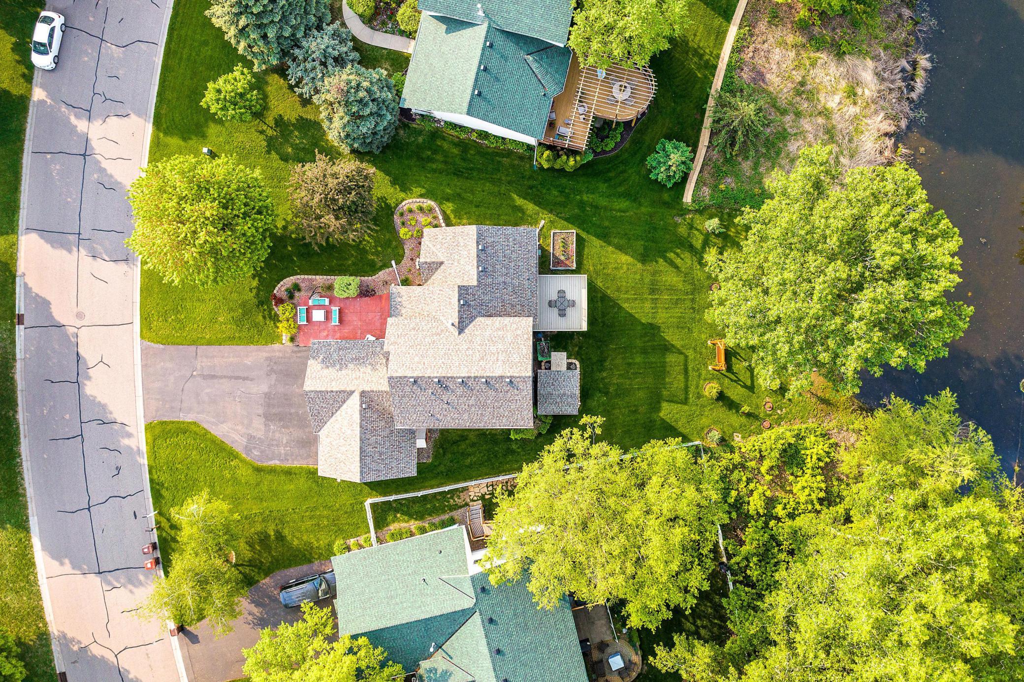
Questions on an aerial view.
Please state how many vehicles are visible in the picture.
2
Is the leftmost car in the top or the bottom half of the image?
top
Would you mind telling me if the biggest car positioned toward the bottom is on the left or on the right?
left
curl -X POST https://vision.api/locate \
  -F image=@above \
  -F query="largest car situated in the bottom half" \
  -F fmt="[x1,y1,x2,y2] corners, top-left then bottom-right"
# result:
[278,569,335,608]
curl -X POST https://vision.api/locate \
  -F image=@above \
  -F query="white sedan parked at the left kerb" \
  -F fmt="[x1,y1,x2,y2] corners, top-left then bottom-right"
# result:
[30,11,69,71]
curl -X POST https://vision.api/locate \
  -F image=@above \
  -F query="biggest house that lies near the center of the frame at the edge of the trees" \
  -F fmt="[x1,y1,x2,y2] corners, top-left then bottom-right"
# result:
[303,223,544,483]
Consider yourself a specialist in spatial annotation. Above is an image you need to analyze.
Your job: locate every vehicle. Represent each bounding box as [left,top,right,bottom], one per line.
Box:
[278,569,335,608]
[30,11,69,71]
